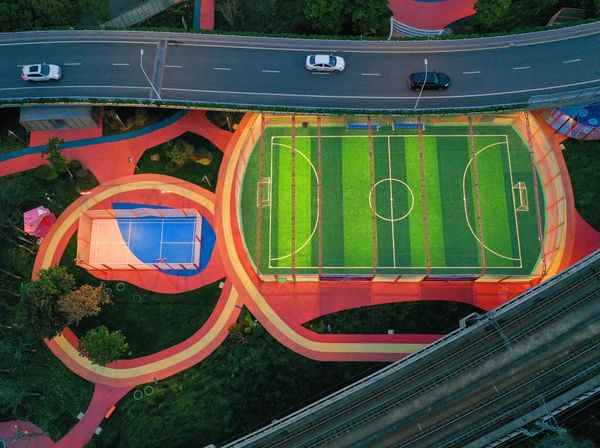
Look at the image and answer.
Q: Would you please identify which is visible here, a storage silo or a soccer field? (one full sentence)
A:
It is a soccer field that can be seen here.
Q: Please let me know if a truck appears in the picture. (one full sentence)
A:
No, I can't see a single truck in this photo.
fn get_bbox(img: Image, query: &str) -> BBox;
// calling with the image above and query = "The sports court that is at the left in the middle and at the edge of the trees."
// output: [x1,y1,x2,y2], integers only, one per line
[89,203,212,276]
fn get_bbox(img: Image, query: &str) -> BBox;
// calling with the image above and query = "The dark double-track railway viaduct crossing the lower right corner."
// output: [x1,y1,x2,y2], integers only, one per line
[220,247,600,448]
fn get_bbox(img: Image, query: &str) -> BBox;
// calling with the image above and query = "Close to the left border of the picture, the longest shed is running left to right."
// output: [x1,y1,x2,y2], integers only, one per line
[20,107,98,131]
